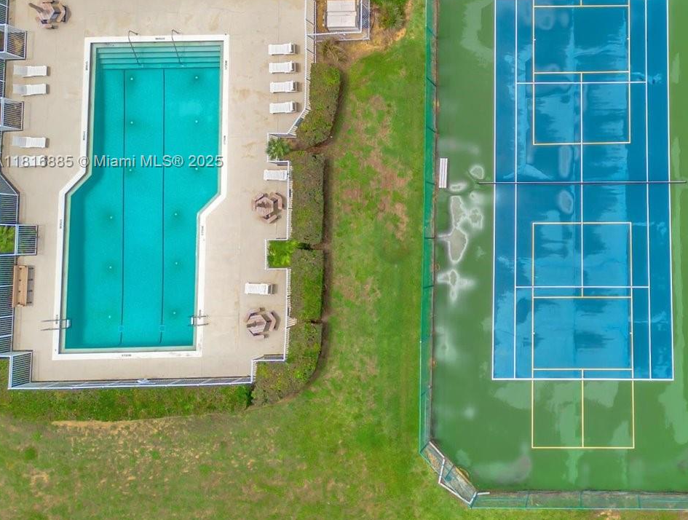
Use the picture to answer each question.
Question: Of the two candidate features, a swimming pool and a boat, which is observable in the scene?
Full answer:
The one in the frame is a swimming pool.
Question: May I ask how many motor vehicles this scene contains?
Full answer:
There are no motor vehicles in this view.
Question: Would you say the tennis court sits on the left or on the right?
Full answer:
You can find the tennis court on the right side of the picture.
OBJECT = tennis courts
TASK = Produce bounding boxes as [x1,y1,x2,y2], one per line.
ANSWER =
[430,0,688,495]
